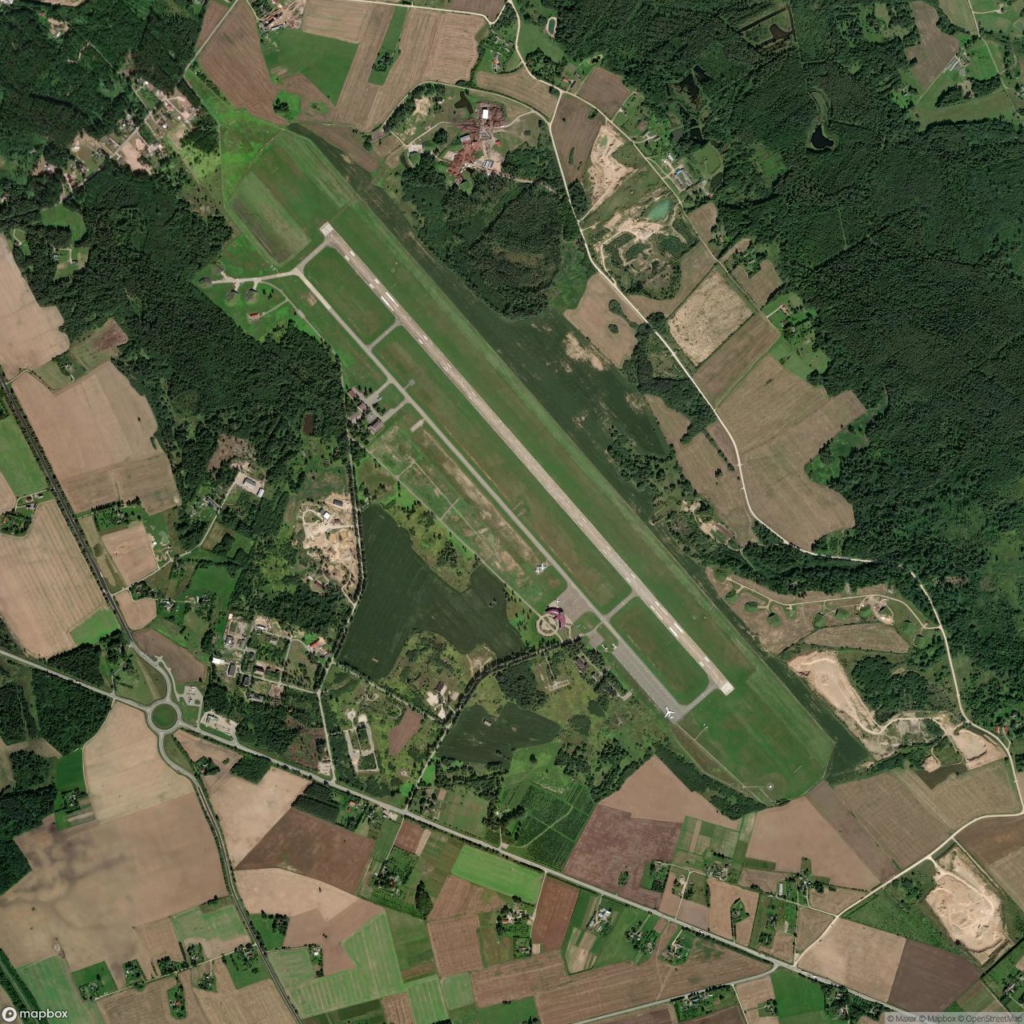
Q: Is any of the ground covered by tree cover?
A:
Yes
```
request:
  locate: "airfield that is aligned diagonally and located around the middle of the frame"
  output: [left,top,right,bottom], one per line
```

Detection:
[212,222,773,789]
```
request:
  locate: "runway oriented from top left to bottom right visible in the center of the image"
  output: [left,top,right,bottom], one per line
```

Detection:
[320,222,734,696]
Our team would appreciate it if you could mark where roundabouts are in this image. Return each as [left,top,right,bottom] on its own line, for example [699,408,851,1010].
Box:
[141,694,187,741]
